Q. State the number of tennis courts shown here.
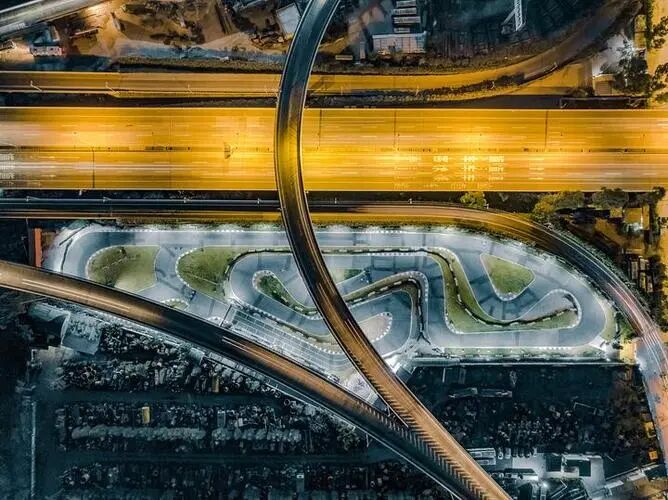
0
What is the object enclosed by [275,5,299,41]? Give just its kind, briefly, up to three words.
building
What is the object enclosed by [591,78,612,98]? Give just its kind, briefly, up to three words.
shed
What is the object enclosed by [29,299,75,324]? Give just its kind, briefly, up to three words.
shed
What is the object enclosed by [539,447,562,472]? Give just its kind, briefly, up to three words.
building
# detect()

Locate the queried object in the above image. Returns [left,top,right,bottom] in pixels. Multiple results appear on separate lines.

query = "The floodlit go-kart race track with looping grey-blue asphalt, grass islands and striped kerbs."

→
[42,223,622,408]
